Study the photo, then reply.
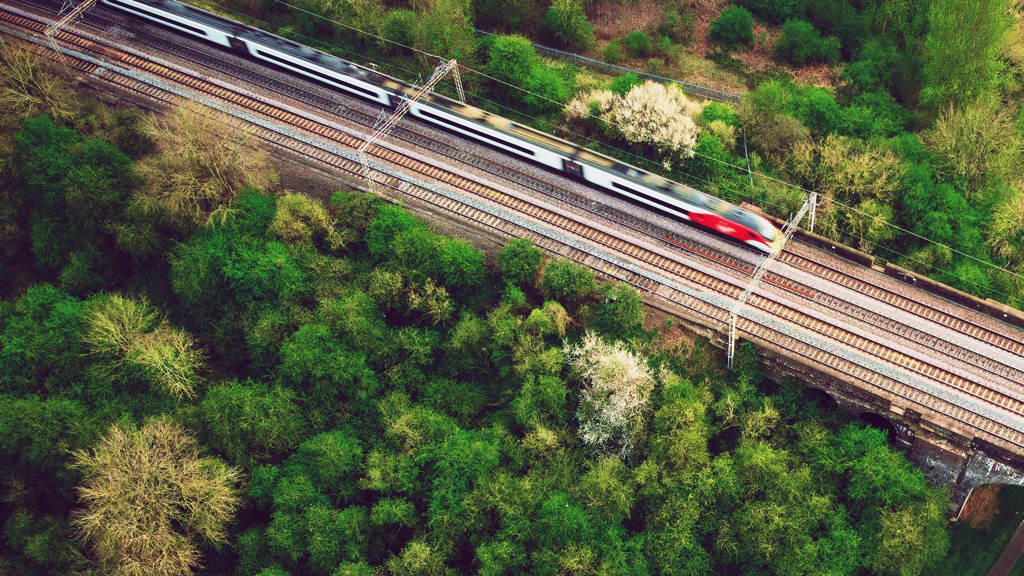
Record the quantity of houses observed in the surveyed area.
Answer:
zero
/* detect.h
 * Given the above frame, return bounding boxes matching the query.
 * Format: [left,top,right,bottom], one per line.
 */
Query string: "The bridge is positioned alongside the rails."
[638,199,1024,523]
